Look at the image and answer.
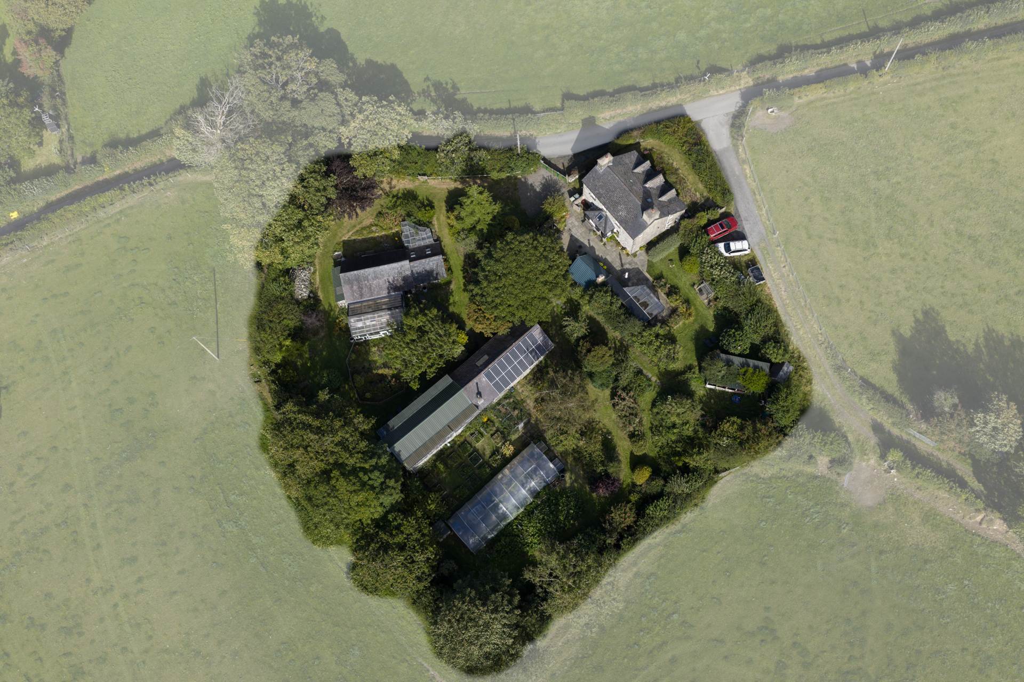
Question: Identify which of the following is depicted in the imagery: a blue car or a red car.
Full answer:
The one in the frame is a red car.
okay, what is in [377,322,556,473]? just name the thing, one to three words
barn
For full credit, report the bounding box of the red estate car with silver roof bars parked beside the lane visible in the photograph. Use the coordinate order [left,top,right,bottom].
[704,216,738,238]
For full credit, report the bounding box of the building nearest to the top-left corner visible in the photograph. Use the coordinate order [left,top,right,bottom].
[331,222,448,344]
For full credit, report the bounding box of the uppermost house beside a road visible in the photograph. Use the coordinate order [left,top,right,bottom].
[581,150,687,254]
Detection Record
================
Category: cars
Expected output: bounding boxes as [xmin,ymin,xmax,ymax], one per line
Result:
[716,239,751,257]
[704,216,738,238]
